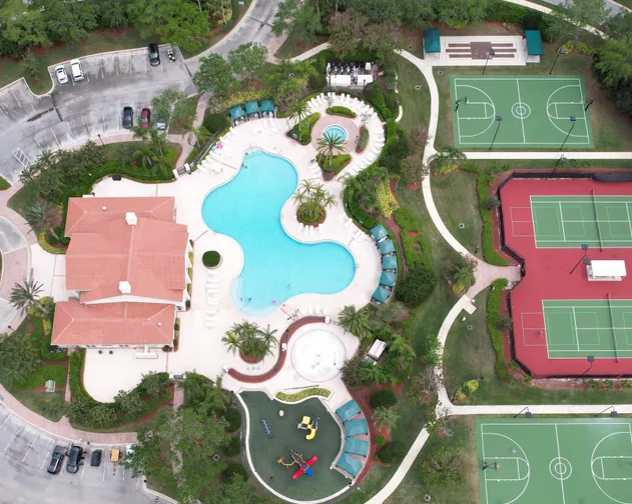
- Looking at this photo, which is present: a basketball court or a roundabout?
basketball court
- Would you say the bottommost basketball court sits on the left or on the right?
right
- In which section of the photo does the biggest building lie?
left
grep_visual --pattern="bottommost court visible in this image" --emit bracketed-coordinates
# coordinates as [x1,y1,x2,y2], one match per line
[476,418,632,504]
